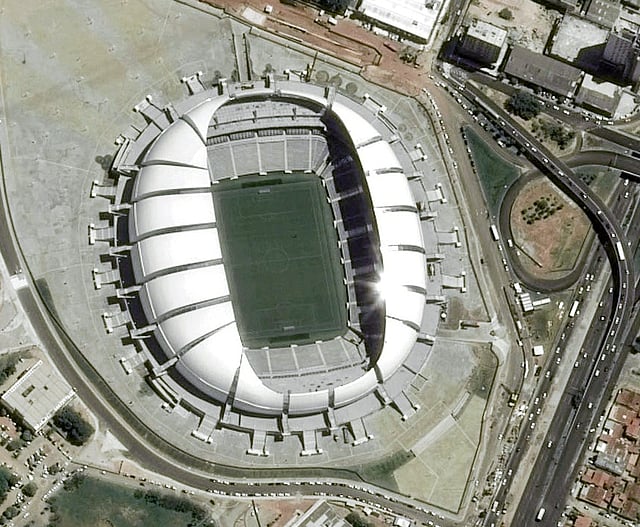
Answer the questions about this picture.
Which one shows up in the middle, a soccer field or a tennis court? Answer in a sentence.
Looking in the middle, you will find a soccer field.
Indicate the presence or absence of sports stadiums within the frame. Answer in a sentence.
Yes, a sports stadium appears in the view.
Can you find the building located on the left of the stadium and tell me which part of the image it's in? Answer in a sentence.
The building located on the left of the stadium sits in the bottom left section of the image.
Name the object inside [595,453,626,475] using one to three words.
house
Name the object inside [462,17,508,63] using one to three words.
building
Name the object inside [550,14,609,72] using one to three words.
building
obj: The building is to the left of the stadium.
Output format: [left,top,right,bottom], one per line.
[2,360,75,435]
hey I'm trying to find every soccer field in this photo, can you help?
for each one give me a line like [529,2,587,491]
[212,171,348,349]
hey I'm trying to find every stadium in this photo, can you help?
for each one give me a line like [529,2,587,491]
[90,68,467,456]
